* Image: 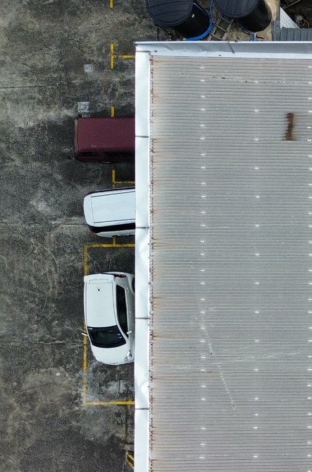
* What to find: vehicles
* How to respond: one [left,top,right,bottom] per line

[83,186,136,238]
[74,118,136,165]
[82,273,136,365]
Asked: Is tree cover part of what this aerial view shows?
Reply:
No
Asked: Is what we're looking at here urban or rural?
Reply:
urban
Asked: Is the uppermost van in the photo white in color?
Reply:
No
